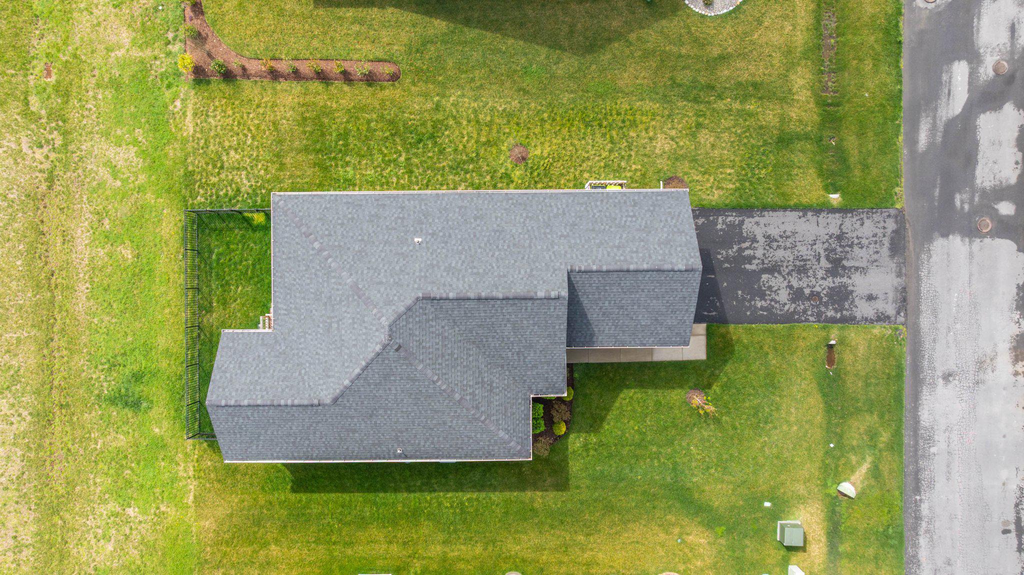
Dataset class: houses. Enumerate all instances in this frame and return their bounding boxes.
[207,181,700,462]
